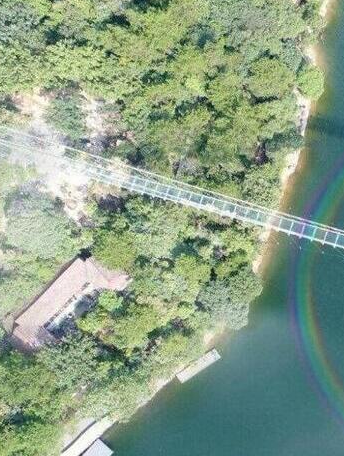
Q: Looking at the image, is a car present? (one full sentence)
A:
No, the scene contains no car.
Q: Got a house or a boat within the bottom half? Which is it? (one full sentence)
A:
It is a house that can be seen within the bottom half.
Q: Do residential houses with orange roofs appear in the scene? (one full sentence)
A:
No, there isn't any residential house with an orange roof down there.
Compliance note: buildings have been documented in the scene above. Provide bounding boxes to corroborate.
[83,438,114,456]
[12,251,132,353]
